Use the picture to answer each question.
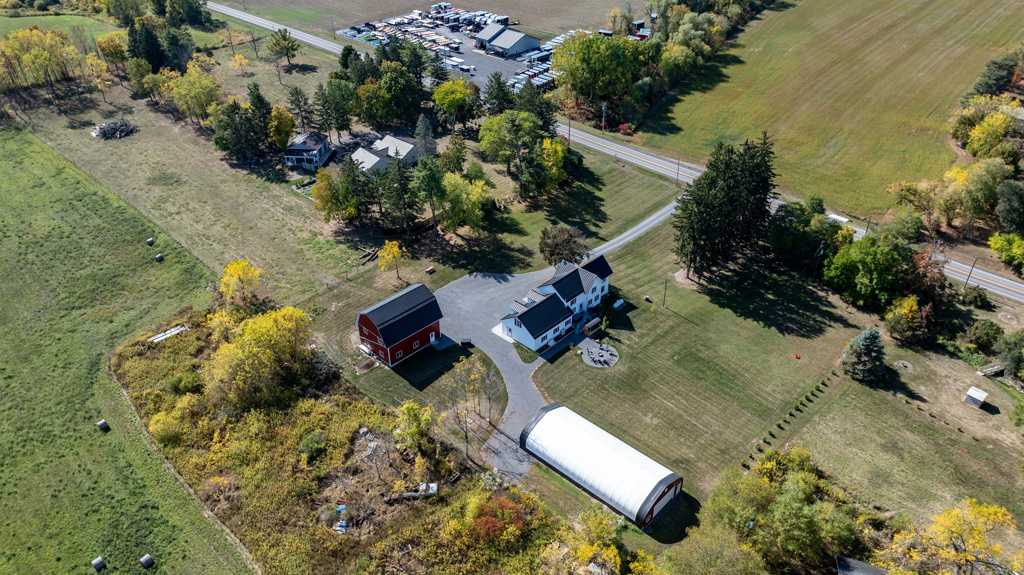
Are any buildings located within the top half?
Yes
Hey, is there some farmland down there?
Yes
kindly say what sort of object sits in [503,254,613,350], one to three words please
house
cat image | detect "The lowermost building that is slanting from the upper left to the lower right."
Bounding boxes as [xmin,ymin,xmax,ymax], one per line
[520,401,681,529]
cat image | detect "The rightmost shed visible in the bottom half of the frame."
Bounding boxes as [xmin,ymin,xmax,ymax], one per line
[965,386,992,408]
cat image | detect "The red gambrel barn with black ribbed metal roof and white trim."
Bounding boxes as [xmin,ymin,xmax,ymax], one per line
[354,283,443,367]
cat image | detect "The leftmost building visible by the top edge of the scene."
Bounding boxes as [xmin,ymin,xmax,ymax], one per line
[475,23,539,59]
